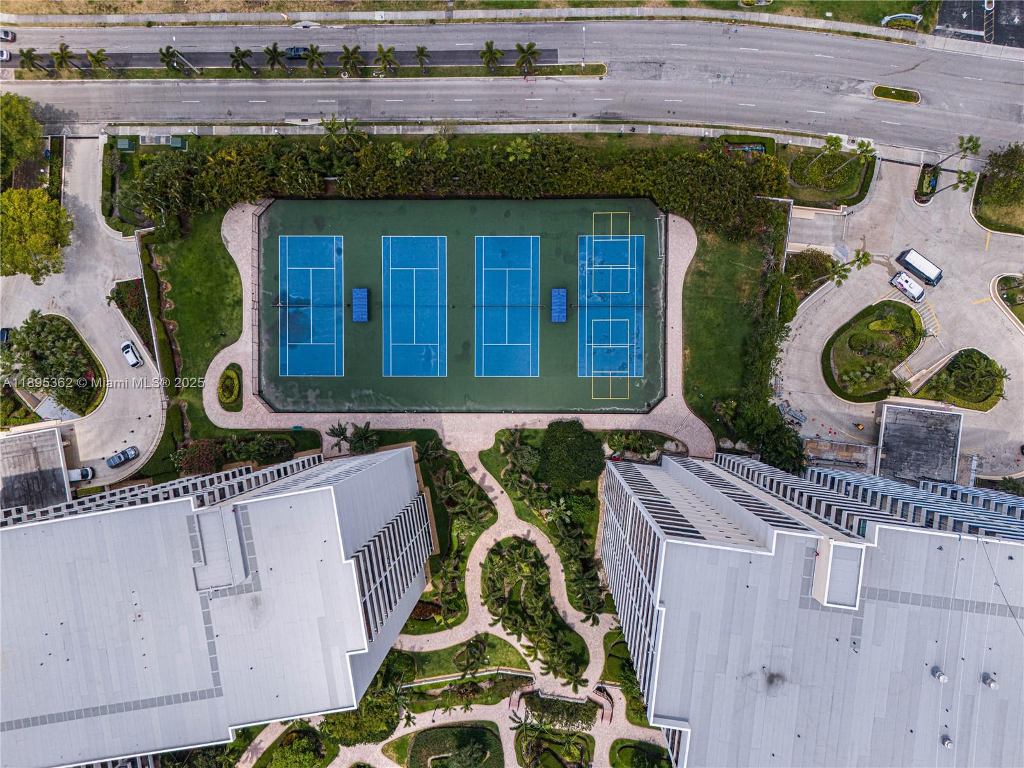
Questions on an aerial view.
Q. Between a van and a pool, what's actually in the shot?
van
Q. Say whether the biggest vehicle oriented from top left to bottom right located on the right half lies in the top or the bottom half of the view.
top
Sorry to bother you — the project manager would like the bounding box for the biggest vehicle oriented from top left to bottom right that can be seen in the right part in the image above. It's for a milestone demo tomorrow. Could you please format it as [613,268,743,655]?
[891,245,945,287]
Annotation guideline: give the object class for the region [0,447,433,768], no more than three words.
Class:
building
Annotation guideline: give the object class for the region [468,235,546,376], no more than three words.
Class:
tennis court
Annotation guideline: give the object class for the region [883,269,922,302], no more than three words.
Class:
van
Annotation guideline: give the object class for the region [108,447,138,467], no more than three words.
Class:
car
